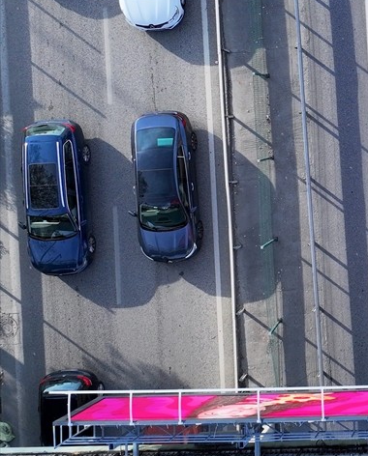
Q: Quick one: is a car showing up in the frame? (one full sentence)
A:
Yes, this view includes a car.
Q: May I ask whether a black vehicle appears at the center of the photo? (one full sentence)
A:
Yes, there is a black vehicle at the center of the photo.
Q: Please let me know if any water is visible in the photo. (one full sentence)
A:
No, the scene doesn't show any water.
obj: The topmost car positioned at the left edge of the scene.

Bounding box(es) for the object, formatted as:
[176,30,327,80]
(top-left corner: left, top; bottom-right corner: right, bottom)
[9,124,100,273]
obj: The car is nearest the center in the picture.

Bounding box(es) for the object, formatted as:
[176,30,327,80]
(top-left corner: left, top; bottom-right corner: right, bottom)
[126,113,206,260]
